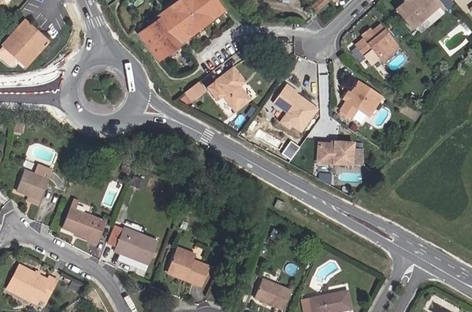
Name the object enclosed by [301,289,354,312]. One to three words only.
house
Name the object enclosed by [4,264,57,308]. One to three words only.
house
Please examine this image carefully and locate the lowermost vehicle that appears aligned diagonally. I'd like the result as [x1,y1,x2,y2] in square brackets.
[122,296,136,312]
